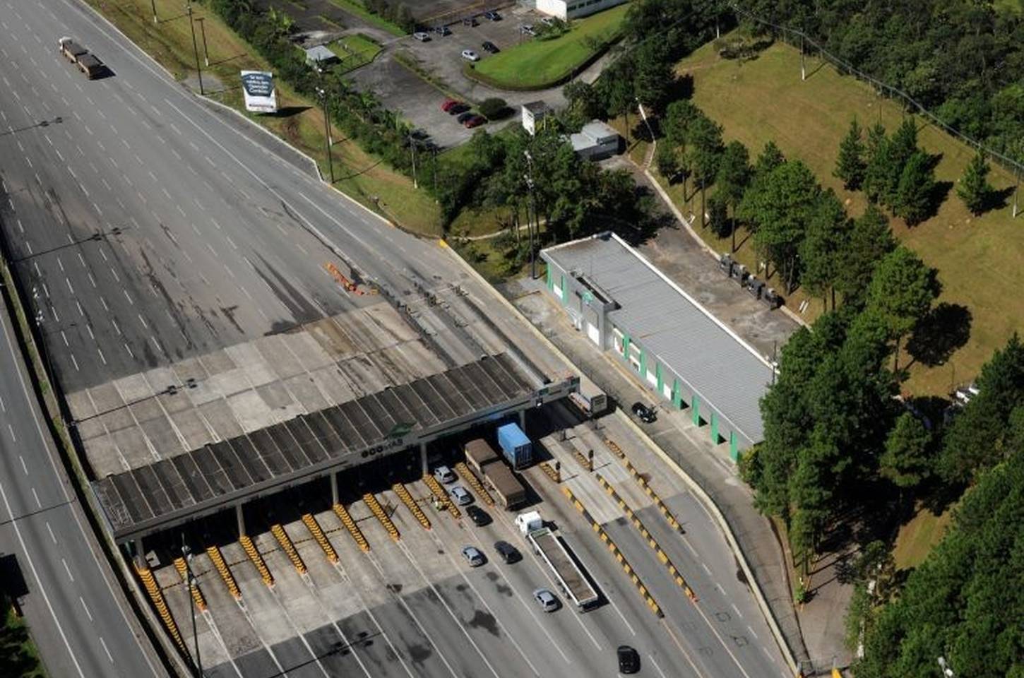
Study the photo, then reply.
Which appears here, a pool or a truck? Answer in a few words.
truck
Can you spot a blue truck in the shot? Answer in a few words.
Yes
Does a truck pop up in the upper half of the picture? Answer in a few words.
Yes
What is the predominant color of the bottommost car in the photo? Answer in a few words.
black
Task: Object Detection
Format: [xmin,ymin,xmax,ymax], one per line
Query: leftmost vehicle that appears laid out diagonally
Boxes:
[49,40,104,84]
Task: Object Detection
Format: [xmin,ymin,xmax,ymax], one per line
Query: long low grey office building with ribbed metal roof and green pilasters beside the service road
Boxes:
[545,226,824,476]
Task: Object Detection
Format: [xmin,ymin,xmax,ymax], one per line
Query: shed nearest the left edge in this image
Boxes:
[305,45,339,75]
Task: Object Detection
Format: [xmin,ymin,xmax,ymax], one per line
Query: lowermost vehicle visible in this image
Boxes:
[617,646,638,675]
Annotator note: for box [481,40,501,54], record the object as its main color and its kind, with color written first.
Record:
black car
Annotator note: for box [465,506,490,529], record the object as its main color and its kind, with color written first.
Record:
black car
